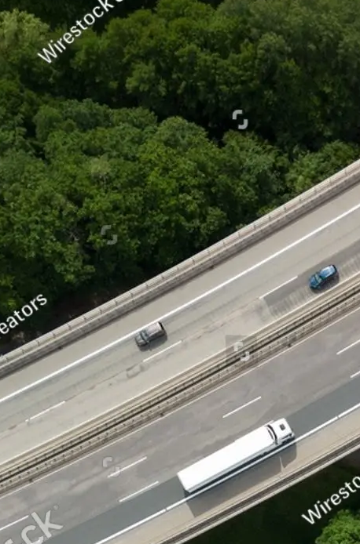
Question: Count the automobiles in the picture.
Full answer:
I count 2 automobiles.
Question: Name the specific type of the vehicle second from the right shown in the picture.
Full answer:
The vehicle second from the right in the image is a truck.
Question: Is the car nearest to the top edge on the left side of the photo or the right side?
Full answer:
The car nearest to the top edge is on the right side of the image.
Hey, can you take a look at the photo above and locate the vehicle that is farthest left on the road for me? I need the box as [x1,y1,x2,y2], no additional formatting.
[133,322,169,350]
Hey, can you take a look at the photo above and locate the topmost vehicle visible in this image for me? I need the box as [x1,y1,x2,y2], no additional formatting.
[307,265,339,290]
